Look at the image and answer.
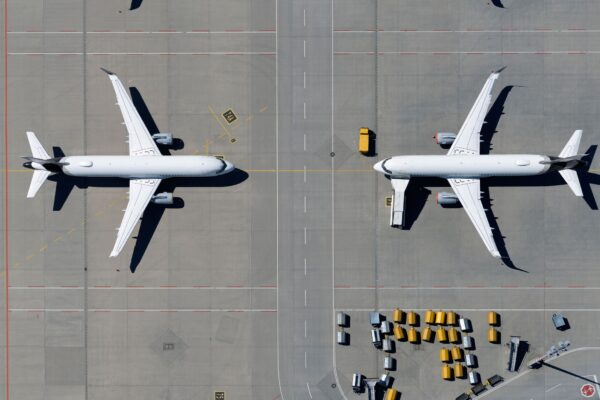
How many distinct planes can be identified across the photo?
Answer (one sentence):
The picture shows 2 planes.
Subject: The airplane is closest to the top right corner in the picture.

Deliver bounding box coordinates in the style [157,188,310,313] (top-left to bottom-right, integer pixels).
[373,68,588,257]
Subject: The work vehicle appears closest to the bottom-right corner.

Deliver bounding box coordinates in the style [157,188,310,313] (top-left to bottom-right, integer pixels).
[550,312,566,330]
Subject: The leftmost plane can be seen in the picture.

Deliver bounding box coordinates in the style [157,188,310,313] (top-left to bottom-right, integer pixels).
[21,68,236,258]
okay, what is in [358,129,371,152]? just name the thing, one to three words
vehicle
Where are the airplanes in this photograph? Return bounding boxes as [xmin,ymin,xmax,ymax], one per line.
[373,68,588,257]
[21,68,236,258]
